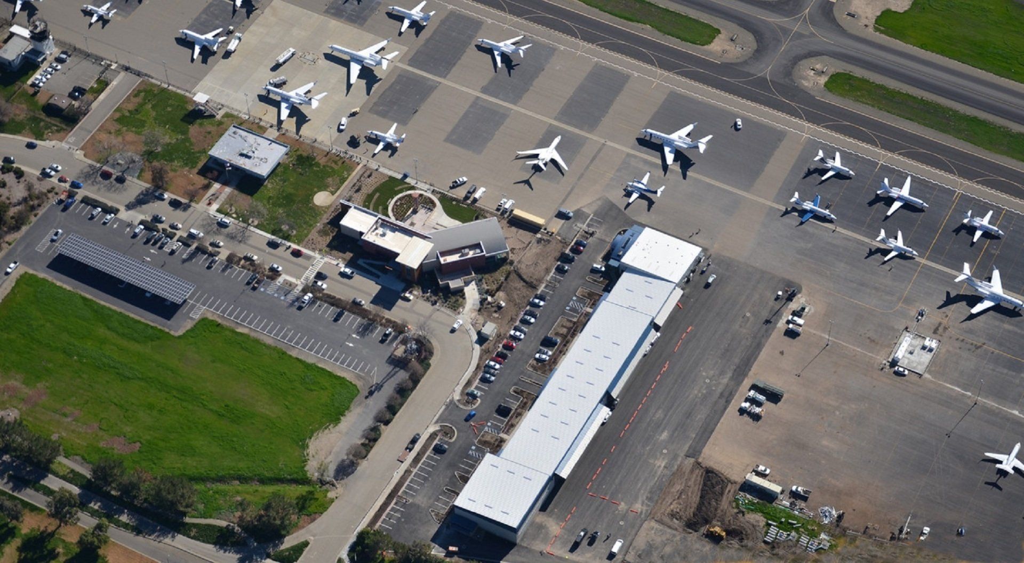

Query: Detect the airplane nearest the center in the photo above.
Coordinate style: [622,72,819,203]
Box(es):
[516,137,568,171]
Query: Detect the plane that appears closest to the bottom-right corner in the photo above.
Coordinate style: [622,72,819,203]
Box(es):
[987,442,1024,474]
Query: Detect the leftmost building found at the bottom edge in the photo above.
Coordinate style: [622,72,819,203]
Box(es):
[452,450,551,546]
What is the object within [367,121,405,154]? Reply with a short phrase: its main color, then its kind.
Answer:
white airplane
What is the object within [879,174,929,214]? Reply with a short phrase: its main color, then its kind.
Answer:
white airplane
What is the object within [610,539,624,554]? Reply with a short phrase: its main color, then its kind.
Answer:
white vehicle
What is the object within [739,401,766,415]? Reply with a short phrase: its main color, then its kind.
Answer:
white vehicle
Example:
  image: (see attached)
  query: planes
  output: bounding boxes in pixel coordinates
[987,442,1024,474]
[952,262,1024,314]
[627,170,667,203]
[790,190,837,221]
[879,174,929,214]
[813,148,854,179]
[328,34,403,85]
[642,120,716,165]
[262,78,330,120]
[388,0,439,31]
[478,34,529,66]
[875,227,918,259]
[83,1,117,22]
[963,208,1004,241]
[367,121,405,154]
[516,137,568,171]
[179,27,230,57]
[235,0,246,8]
[16,0,41,12]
